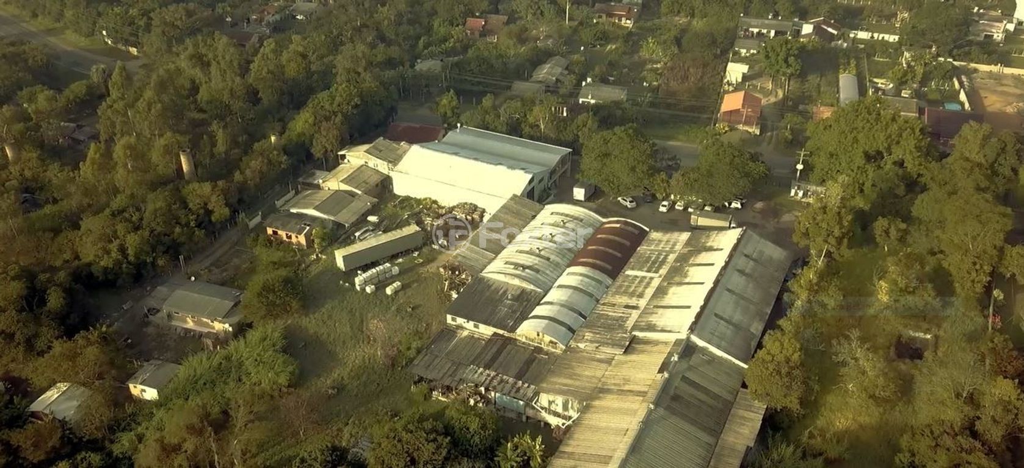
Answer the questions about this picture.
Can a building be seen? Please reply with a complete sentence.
Yes, a building can be made out from above.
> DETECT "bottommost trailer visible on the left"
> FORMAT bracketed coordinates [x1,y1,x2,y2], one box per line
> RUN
[335,224,423,276]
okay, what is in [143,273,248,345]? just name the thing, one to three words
house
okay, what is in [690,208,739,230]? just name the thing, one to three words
truck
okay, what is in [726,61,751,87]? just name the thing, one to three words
shed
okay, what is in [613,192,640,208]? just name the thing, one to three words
car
